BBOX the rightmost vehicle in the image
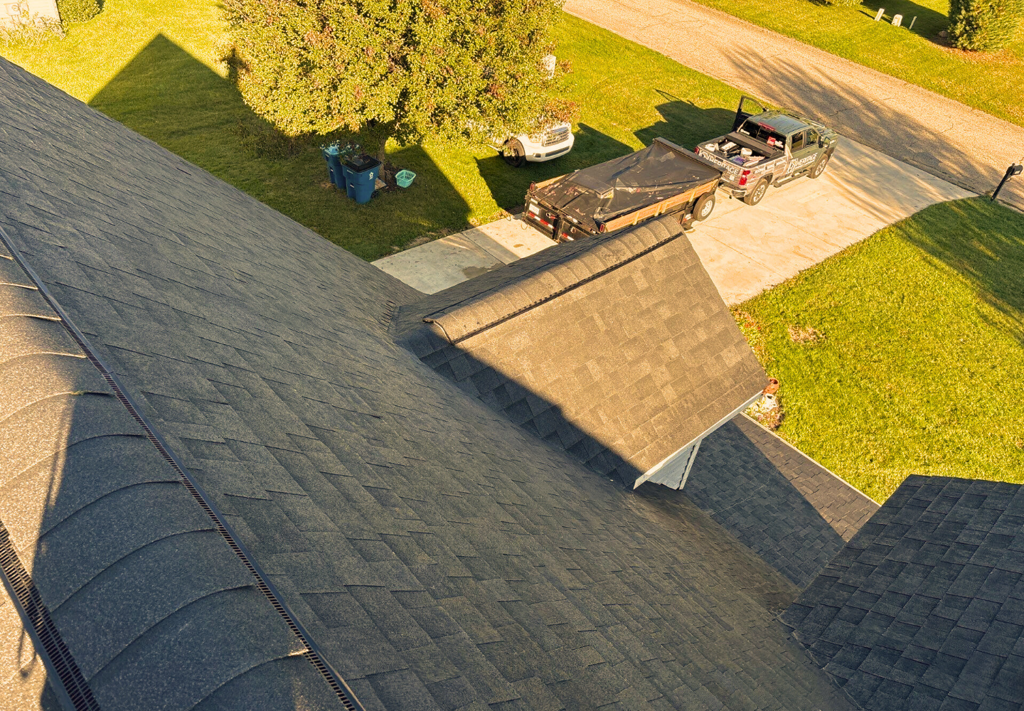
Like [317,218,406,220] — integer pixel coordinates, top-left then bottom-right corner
[696,102,839,200]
